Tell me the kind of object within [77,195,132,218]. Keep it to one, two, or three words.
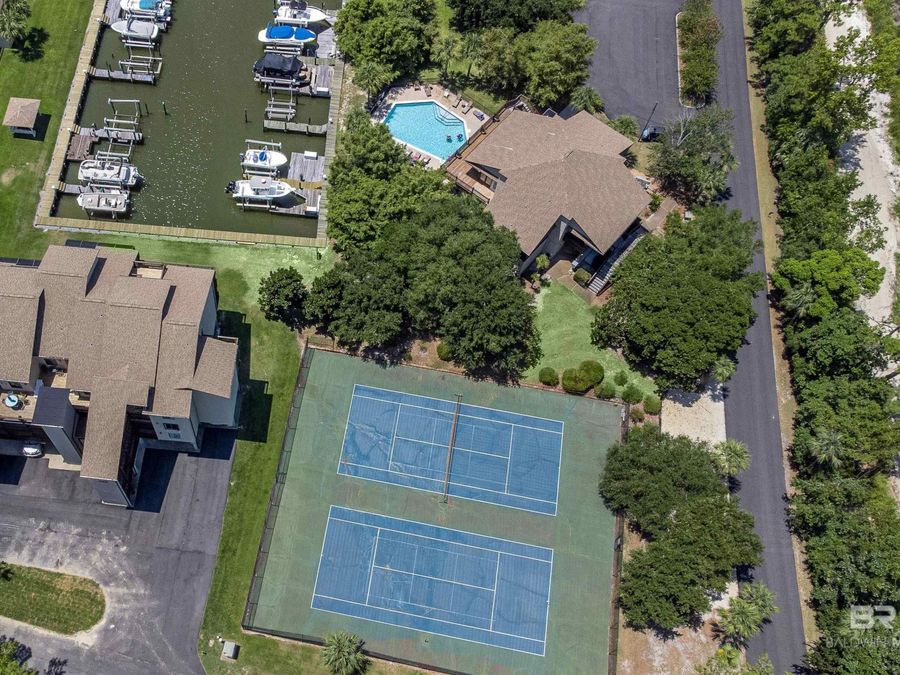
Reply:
boat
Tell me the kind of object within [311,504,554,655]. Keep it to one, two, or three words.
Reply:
tennis court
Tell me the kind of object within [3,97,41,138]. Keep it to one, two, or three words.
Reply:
gazebo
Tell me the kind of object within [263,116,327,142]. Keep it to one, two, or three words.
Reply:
pier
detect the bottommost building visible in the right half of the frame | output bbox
[465,110,651,268]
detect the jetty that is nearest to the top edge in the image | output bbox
[102,0,122,25]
